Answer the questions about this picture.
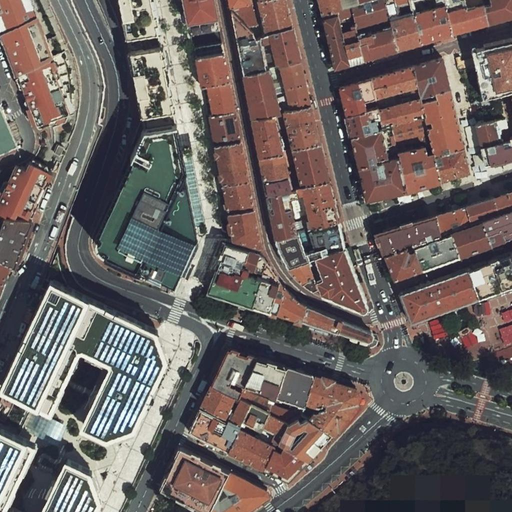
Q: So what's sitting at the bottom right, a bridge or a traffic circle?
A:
traffic circle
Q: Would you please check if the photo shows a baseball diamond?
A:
No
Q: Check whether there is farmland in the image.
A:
No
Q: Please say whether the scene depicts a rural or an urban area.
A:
urban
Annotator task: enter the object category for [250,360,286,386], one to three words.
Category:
building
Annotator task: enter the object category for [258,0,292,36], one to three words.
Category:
building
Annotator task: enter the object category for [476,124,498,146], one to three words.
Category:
house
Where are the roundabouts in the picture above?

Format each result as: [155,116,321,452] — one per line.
[366,345,440,419]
